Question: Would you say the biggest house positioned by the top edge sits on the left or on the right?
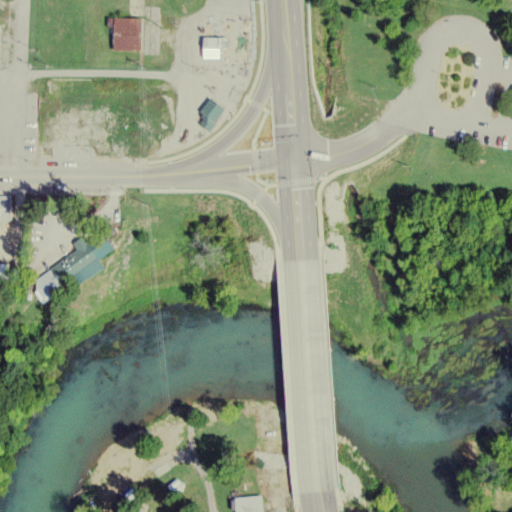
left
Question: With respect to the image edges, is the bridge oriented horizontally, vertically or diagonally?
vertically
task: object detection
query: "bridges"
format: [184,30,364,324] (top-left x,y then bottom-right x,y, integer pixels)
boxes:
[276,260,342,493]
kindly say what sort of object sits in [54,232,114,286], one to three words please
building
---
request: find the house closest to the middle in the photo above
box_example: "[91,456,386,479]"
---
[198,98,224,130]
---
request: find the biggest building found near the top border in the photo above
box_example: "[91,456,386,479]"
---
[108,18,141,51]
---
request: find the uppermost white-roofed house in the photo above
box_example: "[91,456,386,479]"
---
[202,36,221,60]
